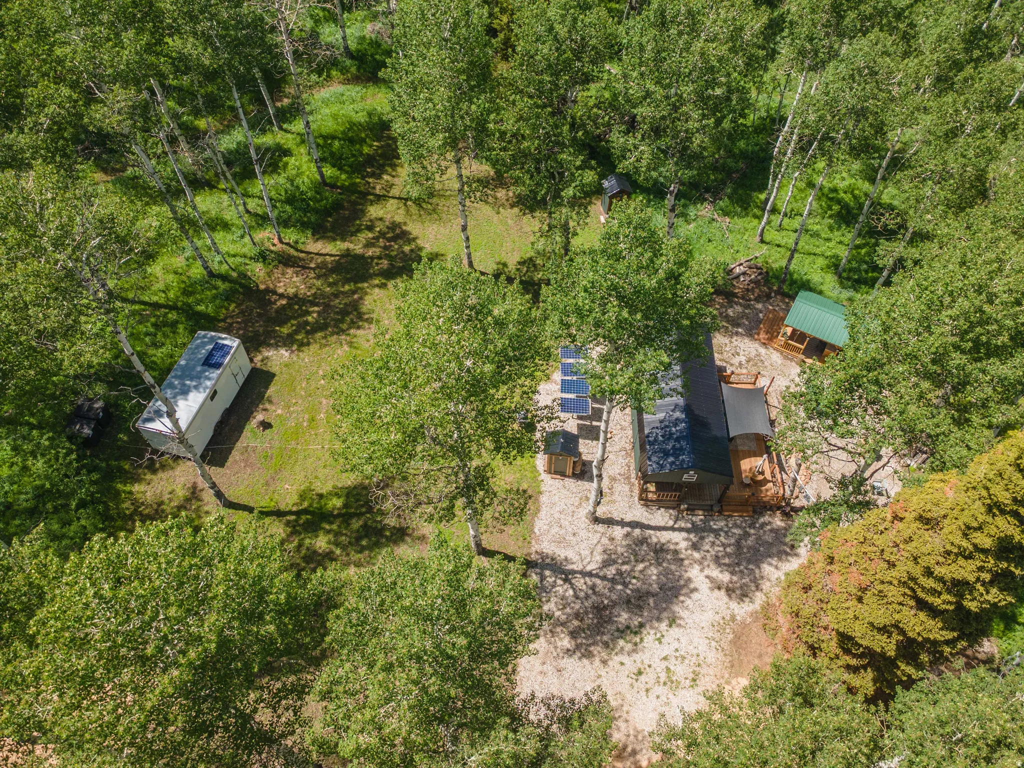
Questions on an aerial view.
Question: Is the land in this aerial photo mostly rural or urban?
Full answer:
This place is rural.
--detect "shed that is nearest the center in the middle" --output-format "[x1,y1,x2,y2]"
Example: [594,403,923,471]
[545,431,578,476]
